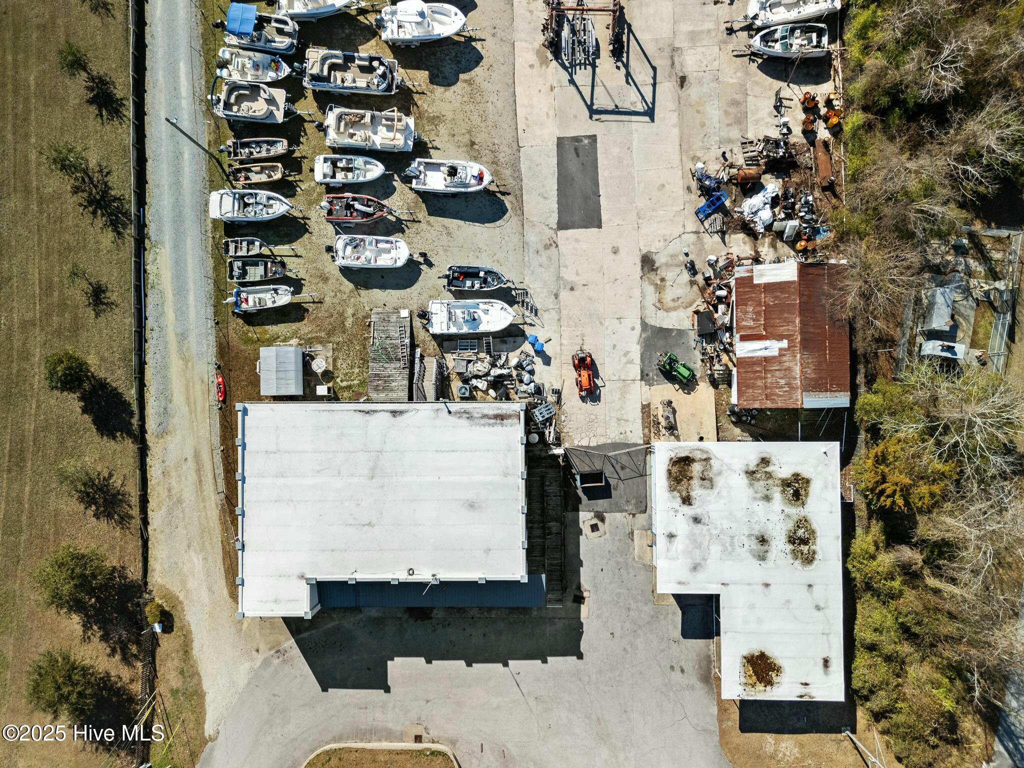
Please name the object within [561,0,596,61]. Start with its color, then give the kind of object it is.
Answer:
gray trailer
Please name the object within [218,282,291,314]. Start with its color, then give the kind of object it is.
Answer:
white boat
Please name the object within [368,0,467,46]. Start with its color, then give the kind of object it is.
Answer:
white boat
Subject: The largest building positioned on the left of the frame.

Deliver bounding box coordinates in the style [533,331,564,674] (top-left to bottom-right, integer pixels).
[235,401,545,619]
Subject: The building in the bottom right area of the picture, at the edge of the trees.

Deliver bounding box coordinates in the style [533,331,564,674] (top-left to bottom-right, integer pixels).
[650,442,854,700]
